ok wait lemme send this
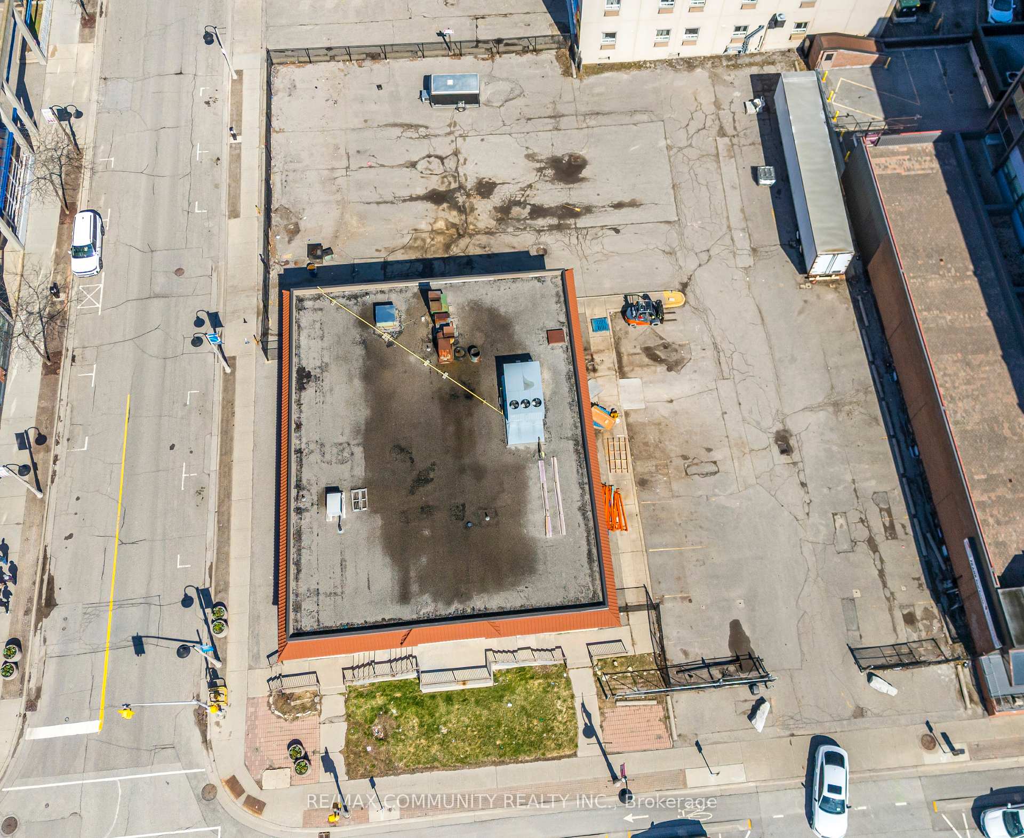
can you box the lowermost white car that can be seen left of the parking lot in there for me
[63,207,103,276]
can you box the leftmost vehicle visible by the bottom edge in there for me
[809,749,855,838]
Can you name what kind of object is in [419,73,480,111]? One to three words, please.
trailer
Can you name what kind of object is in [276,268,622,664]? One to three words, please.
building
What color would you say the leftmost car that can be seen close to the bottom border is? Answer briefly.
white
